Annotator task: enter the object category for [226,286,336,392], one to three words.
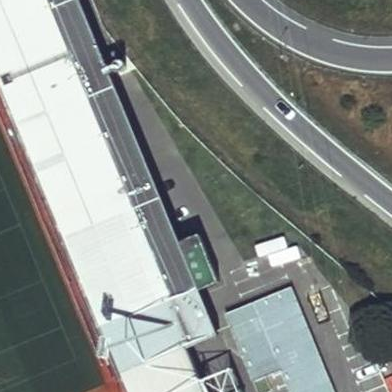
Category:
building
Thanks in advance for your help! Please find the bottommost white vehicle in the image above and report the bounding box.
[356,365,380,381]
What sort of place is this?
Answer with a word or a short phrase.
sports ground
